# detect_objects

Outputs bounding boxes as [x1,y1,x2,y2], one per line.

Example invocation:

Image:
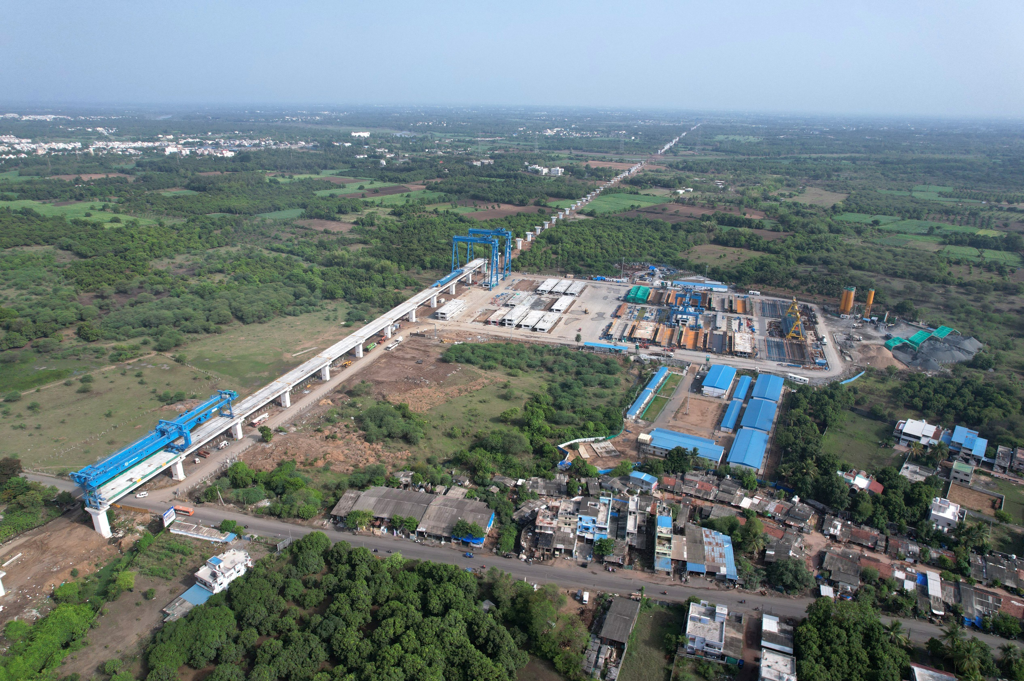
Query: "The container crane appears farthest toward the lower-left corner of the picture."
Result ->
[66,388,245,512]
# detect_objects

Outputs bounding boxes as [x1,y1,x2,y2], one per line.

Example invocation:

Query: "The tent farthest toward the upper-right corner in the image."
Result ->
[626,286,654,306]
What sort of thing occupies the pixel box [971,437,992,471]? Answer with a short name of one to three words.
house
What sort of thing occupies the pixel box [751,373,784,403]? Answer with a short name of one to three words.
shed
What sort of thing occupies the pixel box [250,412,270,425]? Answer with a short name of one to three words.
vehicle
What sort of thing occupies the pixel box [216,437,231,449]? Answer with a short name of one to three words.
vehicle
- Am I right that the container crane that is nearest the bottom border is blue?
Yes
